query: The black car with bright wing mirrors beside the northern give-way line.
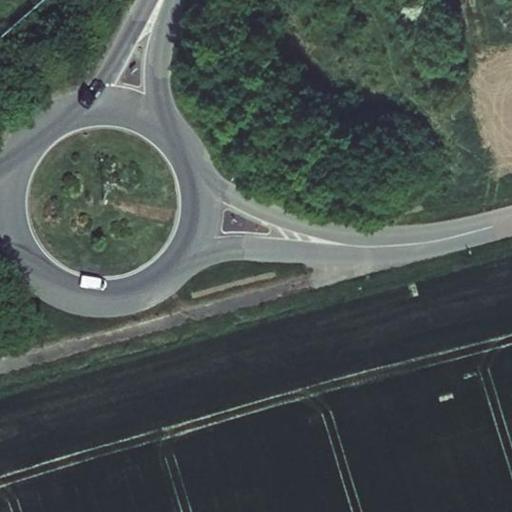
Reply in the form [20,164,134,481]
[82,81,104,108]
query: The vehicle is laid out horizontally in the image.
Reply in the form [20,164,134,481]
[80,276,107,292]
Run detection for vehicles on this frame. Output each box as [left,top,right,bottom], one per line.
[80,276,107,292]
[82,81,104,108]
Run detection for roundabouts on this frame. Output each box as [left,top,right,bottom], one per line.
[0,94,212,310]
